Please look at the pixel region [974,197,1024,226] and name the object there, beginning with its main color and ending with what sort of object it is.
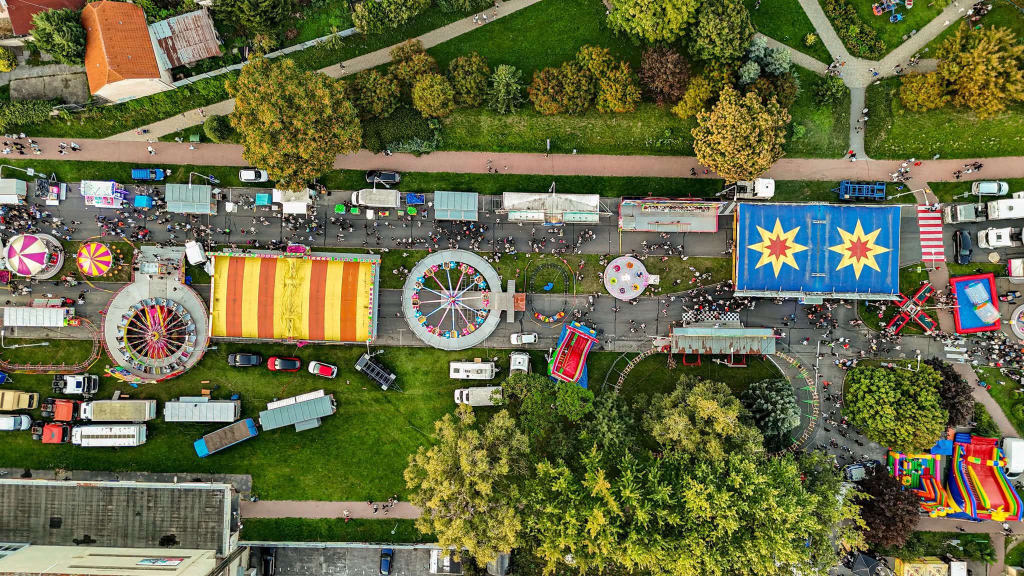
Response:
white camper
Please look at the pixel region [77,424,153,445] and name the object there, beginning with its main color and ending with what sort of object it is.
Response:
white truck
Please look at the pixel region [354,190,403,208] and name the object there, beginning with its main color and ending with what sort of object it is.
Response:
white vehicle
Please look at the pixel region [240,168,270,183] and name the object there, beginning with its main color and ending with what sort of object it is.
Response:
white car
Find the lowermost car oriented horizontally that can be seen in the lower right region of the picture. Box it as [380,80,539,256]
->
[843,461,880,481]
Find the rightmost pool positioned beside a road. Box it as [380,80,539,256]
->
[947,271,1004,336]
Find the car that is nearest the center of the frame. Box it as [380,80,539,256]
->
[510,332,537,345]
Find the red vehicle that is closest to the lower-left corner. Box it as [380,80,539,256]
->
[31,425,74,446]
